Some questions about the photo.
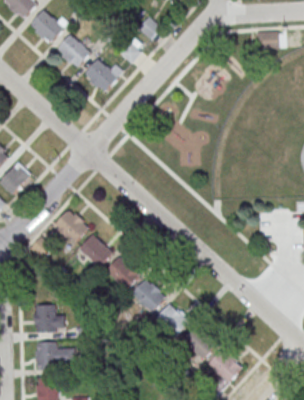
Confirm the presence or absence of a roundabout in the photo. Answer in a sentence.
No, the picture doesn't show any roundabout.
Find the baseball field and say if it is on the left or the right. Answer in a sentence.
The baseball field appears in the right half of the scene.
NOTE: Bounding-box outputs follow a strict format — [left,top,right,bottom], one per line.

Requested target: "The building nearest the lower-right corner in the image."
[210,355,242,391]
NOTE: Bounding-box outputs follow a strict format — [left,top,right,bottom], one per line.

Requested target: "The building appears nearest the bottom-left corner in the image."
[38,379,60,400]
